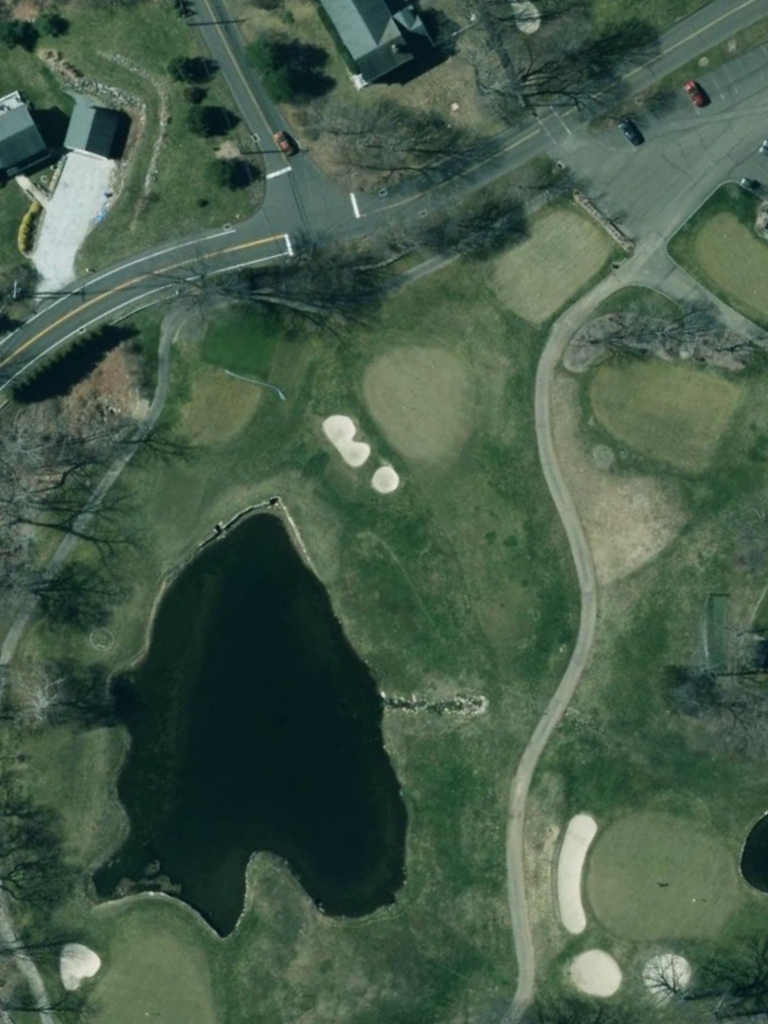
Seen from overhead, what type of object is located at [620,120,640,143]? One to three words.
car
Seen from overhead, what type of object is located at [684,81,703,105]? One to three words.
car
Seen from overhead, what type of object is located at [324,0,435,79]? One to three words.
house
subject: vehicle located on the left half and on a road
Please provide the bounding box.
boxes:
[273,128,291,152]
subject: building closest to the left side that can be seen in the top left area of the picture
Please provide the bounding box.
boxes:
[0,90,52,181]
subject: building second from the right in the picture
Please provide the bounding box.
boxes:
[64,90,116,162]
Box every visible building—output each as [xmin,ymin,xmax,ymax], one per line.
[0,90,52,181]
[64,90,116,162]
[324,0,435,79]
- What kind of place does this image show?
golf course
